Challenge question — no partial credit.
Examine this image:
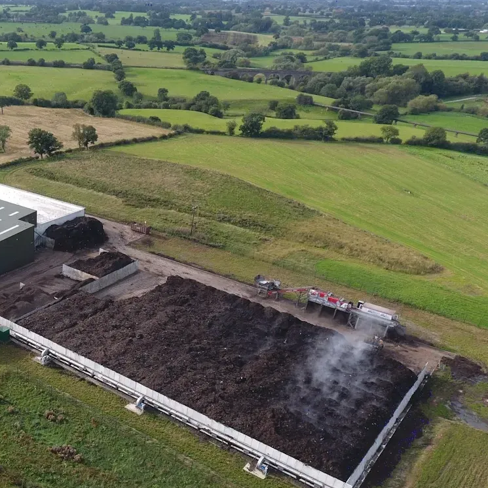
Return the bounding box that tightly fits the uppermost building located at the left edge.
[0,183,86,231]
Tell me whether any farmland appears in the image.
Yes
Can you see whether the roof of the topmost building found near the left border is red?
No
